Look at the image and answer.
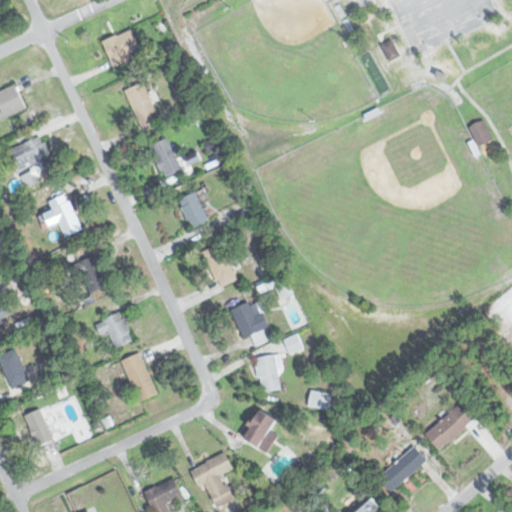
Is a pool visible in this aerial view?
Yes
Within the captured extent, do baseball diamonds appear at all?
Yes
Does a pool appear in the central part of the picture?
Yes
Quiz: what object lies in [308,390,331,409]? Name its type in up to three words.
shed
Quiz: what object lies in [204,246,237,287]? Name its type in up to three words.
house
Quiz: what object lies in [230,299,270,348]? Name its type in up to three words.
house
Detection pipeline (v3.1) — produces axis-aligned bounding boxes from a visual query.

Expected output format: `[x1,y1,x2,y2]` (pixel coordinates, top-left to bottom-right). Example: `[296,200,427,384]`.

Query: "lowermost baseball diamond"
[257,86,512,304]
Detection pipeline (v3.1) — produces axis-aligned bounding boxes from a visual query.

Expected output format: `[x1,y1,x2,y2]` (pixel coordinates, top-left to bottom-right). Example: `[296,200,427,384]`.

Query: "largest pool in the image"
[39,395,92,444]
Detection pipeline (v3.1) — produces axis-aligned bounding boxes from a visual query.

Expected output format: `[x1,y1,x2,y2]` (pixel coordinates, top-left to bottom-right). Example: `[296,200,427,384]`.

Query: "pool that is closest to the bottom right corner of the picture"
[262,448,296,482]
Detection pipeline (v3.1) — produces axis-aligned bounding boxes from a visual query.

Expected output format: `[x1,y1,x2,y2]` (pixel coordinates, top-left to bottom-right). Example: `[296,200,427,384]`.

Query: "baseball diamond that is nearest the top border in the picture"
[194,0,378,121]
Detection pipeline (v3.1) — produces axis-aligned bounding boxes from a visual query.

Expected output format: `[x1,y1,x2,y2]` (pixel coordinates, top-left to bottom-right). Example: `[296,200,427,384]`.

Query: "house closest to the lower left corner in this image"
[25,410,52,446]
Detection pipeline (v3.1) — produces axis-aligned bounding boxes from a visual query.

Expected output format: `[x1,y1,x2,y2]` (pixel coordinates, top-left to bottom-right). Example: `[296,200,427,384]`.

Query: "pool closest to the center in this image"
[278,287,307,330]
